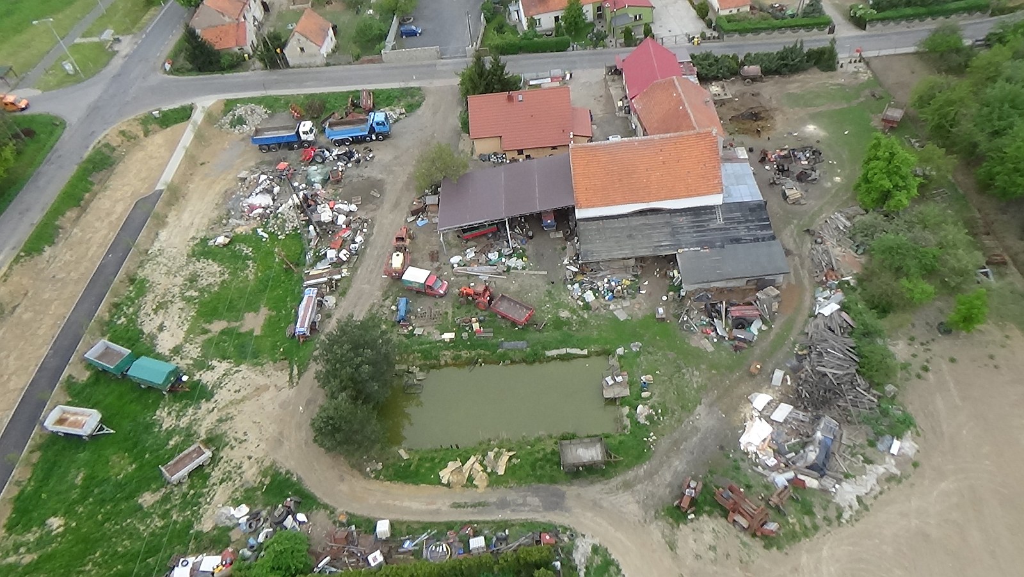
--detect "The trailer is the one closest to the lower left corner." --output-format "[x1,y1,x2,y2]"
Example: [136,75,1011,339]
[49,407,108,437]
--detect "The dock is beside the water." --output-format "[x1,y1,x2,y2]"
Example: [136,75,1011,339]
[602,357,629,402]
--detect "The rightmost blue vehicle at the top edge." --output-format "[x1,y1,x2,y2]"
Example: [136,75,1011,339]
[400,24,420,36]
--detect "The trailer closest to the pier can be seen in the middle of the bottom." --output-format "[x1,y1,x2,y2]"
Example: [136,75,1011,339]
[558,439,623,474]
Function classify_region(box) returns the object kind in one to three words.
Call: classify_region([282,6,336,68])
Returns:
shed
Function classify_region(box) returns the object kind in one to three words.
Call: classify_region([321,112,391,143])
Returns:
truck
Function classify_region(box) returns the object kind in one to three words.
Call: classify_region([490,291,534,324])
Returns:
trailer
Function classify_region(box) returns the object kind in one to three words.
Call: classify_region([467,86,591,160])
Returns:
house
